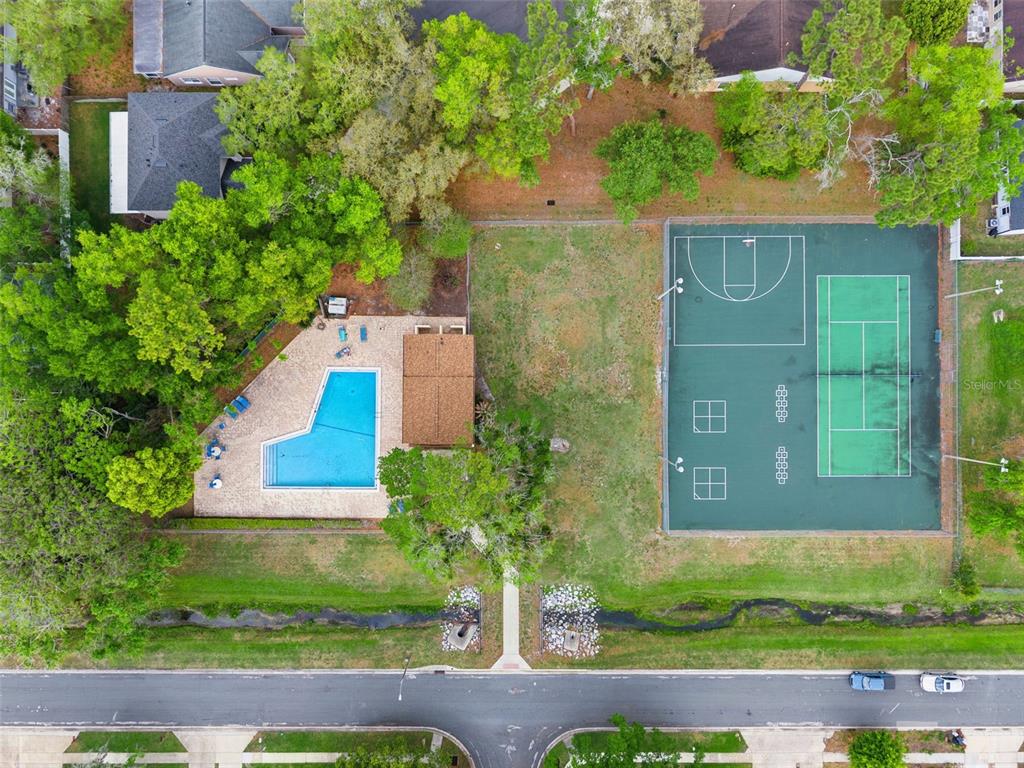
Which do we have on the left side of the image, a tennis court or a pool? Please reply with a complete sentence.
What appears on the left side of the image is a pool.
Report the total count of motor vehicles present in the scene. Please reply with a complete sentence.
The count of motor vehicles comes to 2.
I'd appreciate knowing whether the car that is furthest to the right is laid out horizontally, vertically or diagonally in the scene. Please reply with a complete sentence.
The car that is furthest to the right is laid out horizontally.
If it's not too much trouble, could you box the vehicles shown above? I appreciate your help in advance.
[921,673,966,695]
[850,672,900,694]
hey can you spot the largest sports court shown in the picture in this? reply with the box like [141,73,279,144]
[663,223,942,532]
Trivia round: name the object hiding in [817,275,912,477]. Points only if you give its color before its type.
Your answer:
green tennis court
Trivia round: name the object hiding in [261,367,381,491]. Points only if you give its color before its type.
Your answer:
blue swimming pool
